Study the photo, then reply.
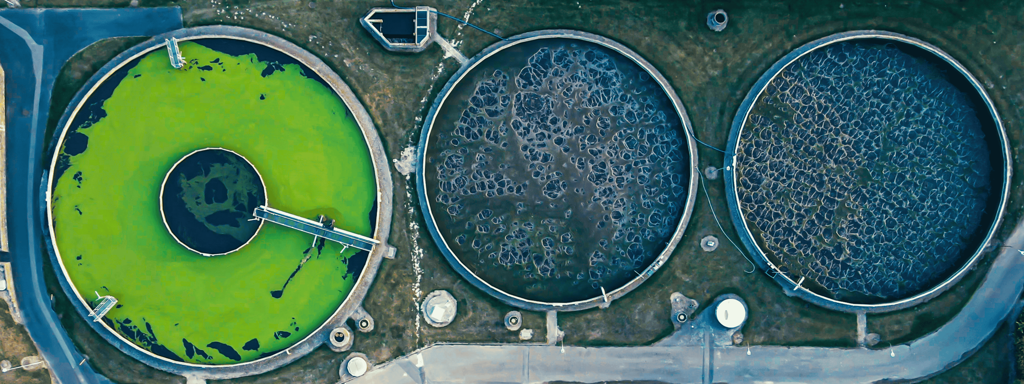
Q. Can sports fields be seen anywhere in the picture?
No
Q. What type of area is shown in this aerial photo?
industrial area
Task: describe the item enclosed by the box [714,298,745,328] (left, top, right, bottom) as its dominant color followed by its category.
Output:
white storage tank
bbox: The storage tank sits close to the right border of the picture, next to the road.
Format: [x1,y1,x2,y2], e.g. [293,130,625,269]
[731,35,1011,306]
